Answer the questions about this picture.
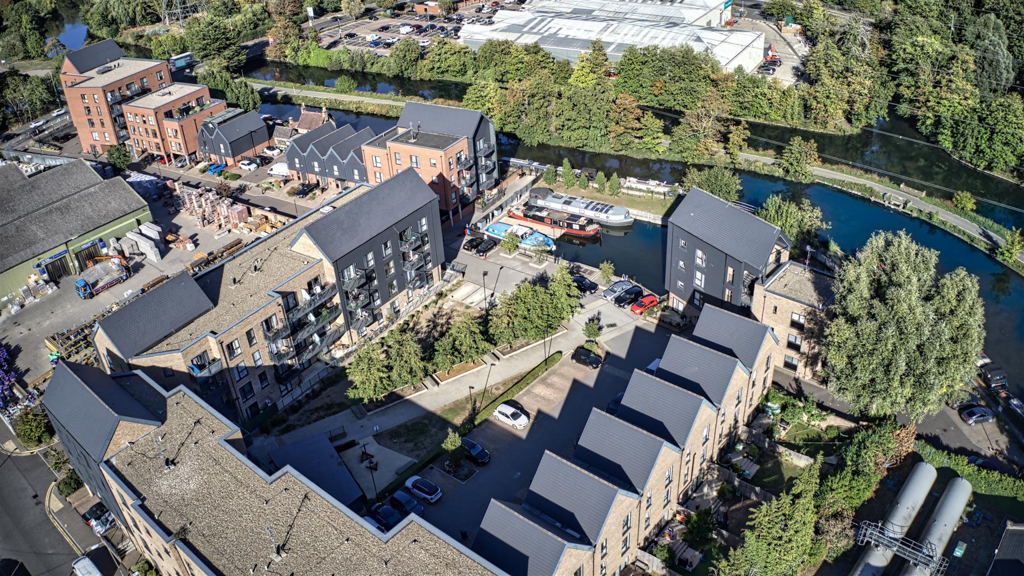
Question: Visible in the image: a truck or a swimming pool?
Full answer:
Looking from above, you can make out a truck.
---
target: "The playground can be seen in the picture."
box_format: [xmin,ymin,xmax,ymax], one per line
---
[340,436,410,498]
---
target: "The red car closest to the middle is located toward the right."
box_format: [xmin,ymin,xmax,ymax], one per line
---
[631,292,658,313]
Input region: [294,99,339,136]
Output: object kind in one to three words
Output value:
house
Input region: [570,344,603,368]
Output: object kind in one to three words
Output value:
car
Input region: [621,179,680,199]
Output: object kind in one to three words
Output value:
boat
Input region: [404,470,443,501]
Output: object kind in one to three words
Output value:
car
